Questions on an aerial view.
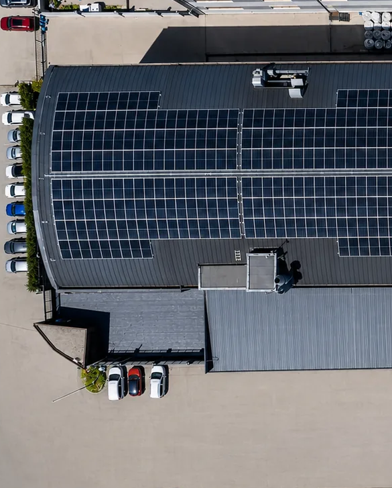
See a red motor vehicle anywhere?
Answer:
Yes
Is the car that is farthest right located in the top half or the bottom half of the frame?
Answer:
bottom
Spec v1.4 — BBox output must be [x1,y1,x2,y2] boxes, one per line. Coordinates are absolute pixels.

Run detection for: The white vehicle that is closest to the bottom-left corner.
[107,365,127,400]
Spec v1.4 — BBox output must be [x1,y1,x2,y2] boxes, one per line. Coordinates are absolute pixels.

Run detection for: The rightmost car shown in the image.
[149,364,169,398]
